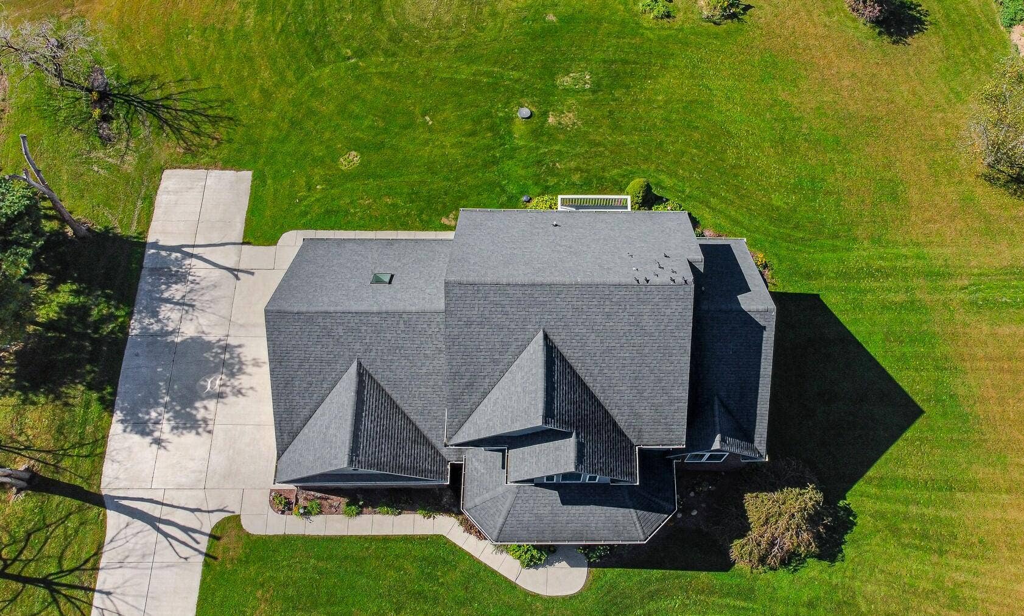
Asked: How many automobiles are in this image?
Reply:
0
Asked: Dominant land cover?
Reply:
grass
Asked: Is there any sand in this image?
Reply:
No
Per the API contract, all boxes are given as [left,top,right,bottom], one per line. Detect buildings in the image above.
[267,195,776,546]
